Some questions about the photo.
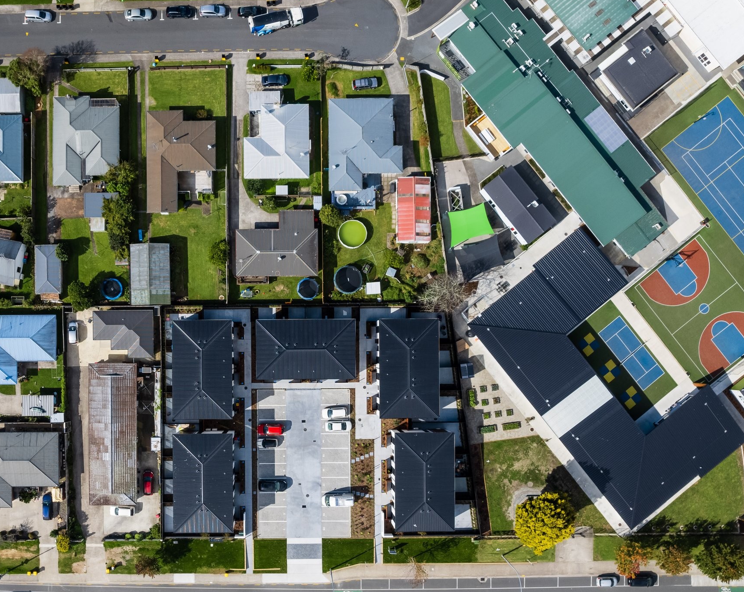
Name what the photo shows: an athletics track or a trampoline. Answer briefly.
trampoline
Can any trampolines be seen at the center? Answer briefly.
Yes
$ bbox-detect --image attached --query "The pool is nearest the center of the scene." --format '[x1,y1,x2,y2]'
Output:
[338,217,367,249]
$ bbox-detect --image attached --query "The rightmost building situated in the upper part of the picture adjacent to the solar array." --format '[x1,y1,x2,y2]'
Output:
[593,29,677,112]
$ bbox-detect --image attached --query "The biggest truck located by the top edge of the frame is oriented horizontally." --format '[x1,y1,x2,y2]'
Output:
[248,3,304,36]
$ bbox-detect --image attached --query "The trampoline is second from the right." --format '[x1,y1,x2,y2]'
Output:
[296,277,319,300]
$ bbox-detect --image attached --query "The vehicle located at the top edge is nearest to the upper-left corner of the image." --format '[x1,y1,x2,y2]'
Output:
[22,8,53,23]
